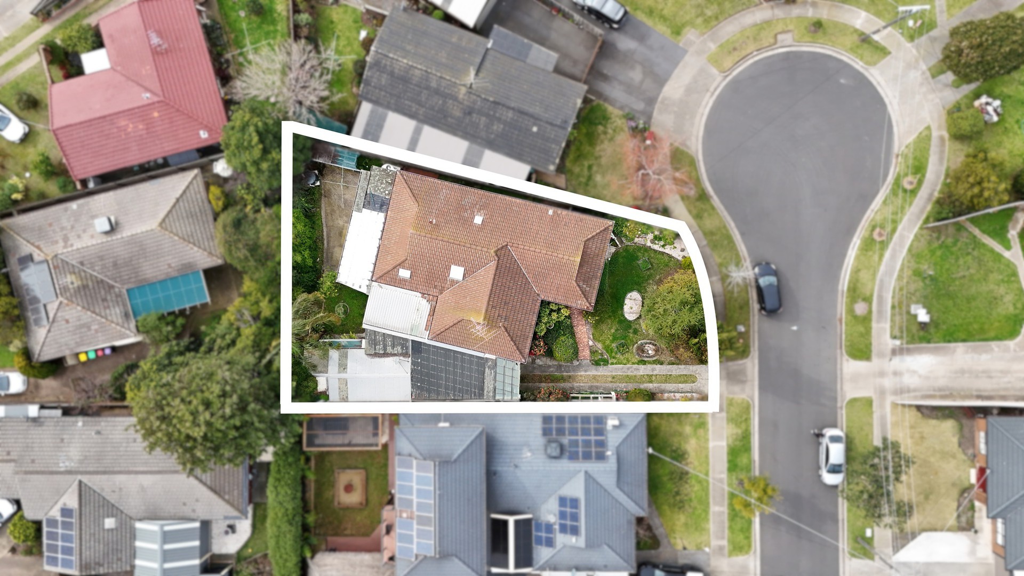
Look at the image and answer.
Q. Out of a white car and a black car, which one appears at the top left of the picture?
white car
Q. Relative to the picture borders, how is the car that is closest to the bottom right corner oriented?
from top to bottom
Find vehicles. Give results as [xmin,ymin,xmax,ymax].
[0,103,27,140]
[0,499,16,524]
[0,371,25,399]
[752,261,783,315]
[571,0,631,30]
[820,429,850,487]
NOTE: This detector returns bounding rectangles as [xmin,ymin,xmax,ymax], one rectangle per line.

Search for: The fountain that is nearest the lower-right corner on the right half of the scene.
[634,340,661,360]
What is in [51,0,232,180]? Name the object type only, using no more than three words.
house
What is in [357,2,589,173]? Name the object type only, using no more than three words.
house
